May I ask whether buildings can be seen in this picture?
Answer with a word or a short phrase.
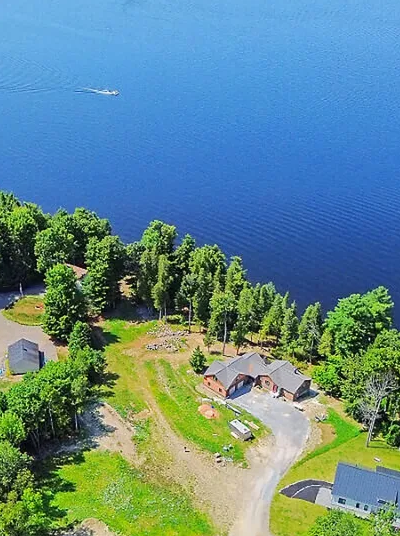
Yes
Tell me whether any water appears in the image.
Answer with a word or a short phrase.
Yes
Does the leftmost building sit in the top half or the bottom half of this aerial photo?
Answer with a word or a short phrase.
bottom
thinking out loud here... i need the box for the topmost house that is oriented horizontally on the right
[201,352,311,403]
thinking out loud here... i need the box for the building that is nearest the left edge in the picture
[10,337,42,373]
